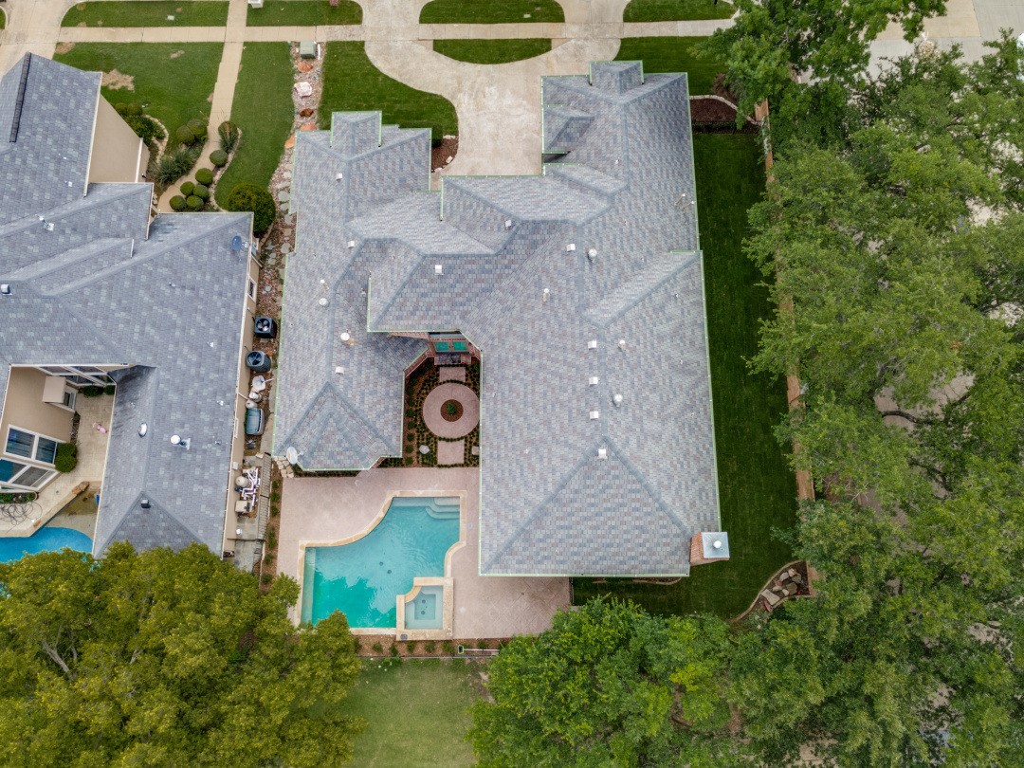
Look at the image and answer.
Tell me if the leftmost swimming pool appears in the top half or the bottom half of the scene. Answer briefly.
bottom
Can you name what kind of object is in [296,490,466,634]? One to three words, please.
swimming pool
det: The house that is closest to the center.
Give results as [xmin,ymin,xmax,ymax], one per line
[270,60,729,577]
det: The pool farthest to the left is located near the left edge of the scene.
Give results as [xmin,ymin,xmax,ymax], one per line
[0,526,91,594]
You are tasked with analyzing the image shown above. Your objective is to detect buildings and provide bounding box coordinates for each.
[270,60,729,577]
[0,52,264,569]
